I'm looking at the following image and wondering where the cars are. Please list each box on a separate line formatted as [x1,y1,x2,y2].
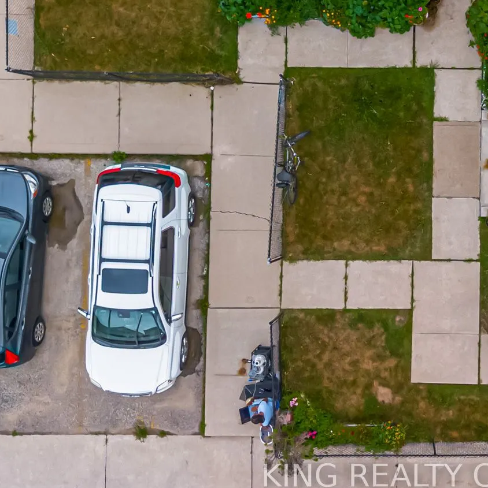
[0,163,55,369]
[73,163,200,400]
